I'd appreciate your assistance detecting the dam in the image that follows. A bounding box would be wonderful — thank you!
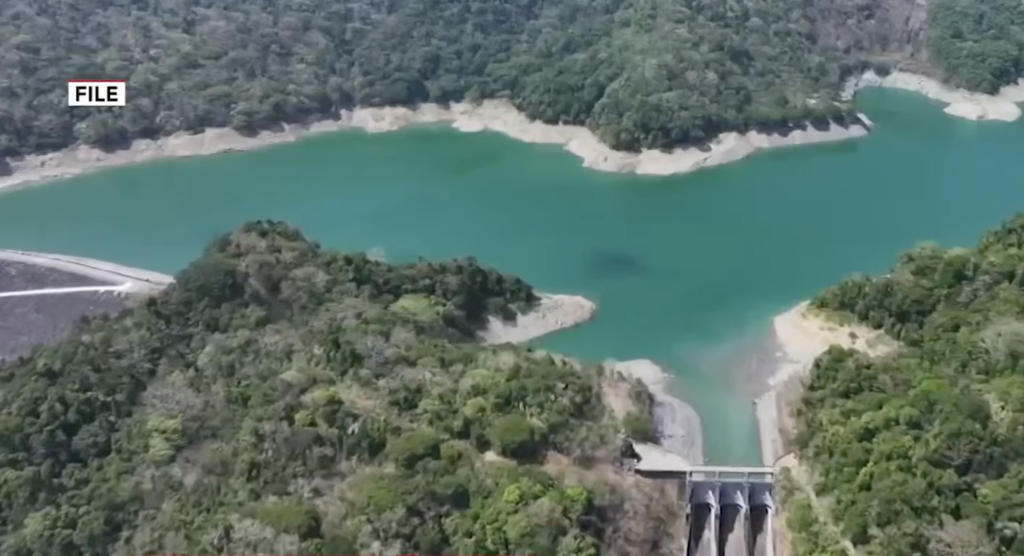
[0,242,173,379]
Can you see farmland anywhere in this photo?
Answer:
No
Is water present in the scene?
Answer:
Yes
